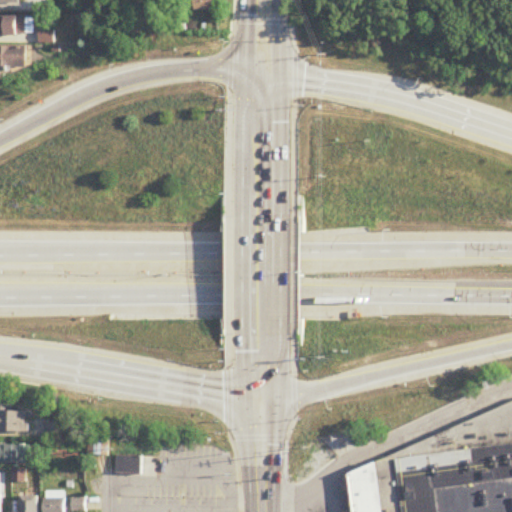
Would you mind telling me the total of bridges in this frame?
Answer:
1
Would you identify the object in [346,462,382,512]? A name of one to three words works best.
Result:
building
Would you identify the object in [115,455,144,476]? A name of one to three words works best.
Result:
building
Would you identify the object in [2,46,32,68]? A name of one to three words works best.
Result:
house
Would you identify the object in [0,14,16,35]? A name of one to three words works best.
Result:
house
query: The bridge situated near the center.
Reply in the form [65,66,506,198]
[221,192,305,350]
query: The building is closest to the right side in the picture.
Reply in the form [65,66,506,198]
[395,443,512,512]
